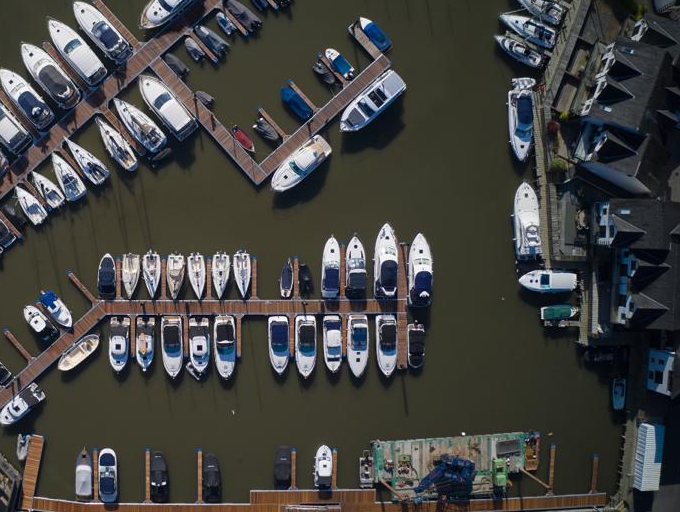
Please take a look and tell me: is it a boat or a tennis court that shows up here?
boat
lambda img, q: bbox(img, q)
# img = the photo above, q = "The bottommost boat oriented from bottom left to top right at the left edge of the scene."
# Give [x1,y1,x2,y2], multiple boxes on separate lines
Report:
[0,381,52,424]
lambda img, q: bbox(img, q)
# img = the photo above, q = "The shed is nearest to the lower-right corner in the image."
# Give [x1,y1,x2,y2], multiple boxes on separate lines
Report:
[632,425,668,495]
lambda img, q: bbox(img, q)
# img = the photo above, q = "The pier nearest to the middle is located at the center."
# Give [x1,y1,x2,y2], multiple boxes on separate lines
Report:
[336,242,350,301]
